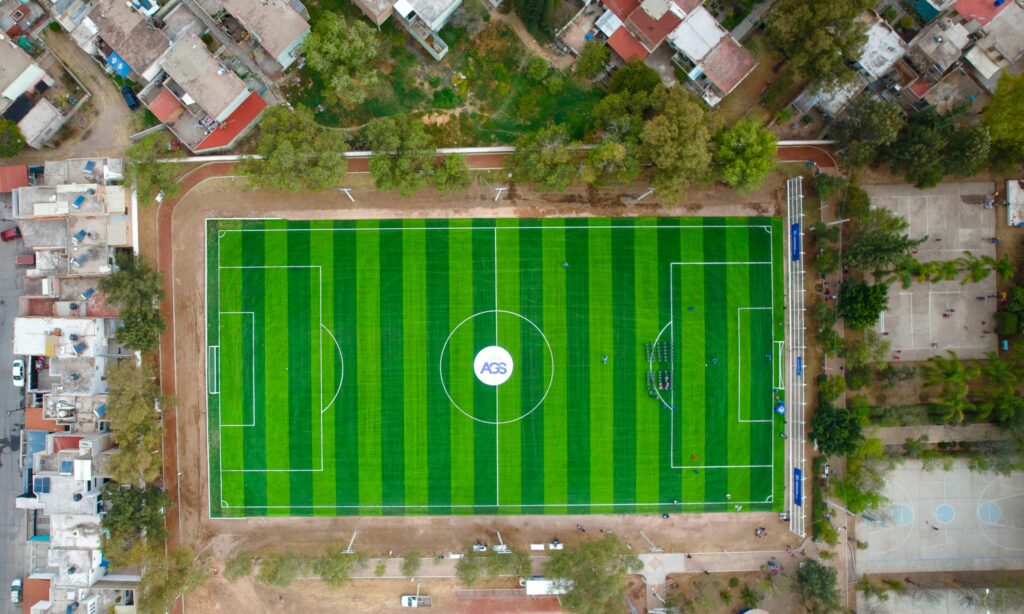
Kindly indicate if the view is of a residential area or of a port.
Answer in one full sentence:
What you see here is a residential area.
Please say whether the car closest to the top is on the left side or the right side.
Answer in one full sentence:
You can find the car closest to the top on the left side of the picture.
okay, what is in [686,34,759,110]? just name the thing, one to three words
house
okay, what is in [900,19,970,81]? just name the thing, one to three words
house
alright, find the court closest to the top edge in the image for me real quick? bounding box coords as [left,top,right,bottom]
[864,181,996,262]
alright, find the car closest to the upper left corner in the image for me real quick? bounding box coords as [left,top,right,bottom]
[117,82,140,109]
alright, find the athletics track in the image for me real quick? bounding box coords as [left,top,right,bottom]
[158,146,837,614]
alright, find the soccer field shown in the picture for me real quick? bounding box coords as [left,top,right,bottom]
[206,215,784,519]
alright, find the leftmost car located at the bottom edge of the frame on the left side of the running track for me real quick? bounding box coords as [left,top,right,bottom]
[9,578,23,604]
